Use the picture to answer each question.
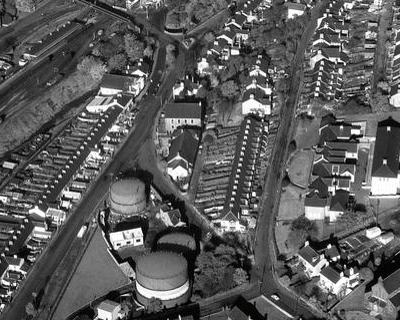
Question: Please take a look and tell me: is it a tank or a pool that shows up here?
tank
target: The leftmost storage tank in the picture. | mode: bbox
[110,176,147,213]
